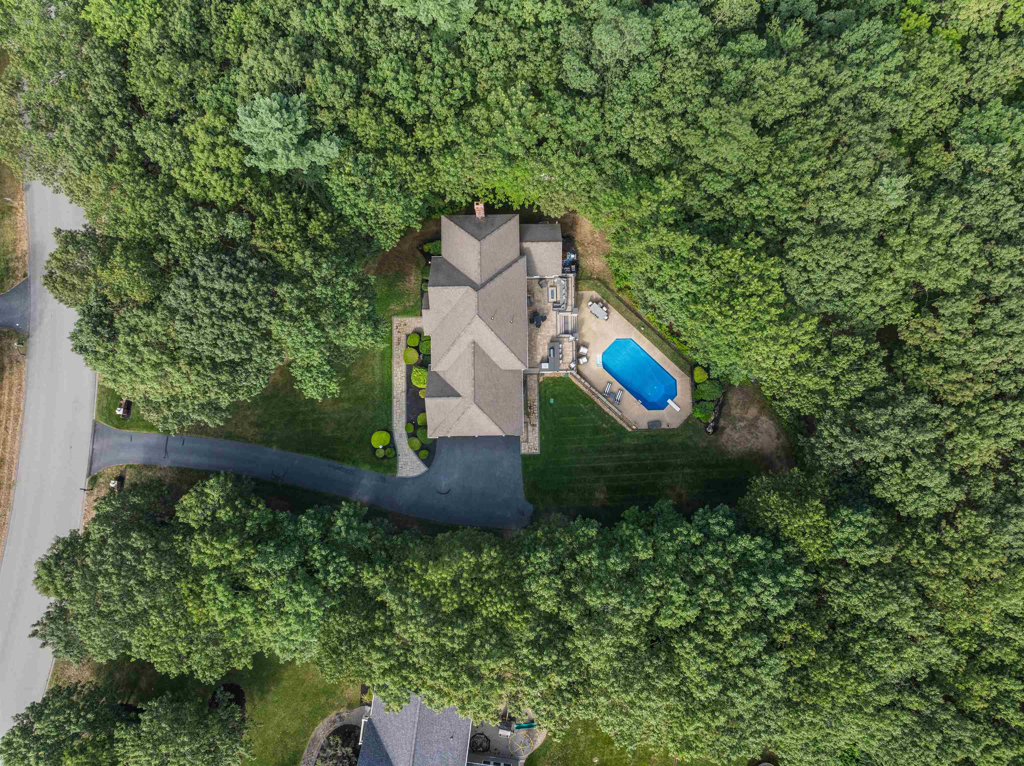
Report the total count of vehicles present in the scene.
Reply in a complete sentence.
Not a single vehicle can be seen.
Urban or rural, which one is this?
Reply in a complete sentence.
The area is rural.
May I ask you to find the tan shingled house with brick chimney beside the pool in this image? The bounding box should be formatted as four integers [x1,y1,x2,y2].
[422,201,562,438]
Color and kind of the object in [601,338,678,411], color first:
blue swimming pool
